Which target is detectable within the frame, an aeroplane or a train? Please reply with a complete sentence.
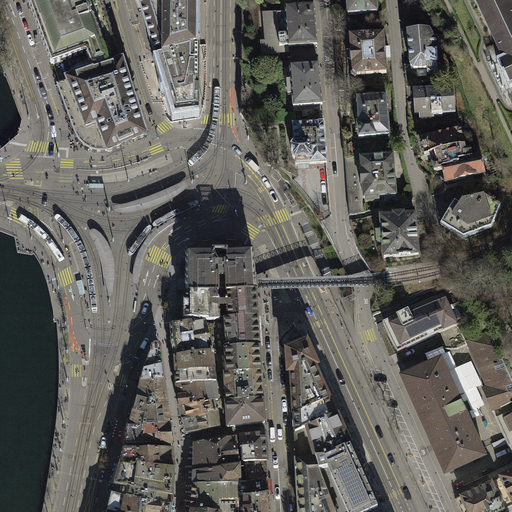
The image shows a train.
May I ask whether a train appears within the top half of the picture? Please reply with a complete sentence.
Yes, a train appears within the top half of the picture.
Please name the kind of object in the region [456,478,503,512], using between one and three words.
house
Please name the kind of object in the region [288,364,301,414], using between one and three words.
building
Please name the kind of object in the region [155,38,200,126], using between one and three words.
building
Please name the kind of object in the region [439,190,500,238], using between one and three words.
house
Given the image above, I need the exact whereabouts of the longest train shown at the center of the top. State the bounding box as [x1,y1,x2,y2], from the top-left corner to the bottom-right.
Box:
[189,86,220,167]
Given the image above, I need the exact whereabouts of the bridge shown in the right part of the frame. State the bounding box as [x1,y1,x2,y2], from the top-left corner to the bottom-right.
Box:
[256,272,386,292]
